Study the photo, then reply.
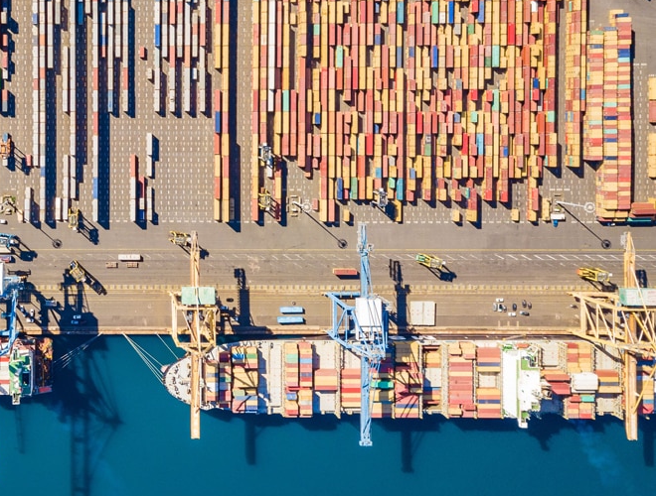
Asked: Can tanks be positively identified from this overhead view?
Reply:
No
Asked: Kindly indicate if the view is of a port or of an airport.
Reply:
port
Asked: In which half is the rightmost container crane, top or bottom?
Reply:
bottom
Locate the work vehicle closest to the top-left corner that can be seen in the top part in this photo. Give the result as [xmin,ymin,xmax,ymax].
[0,135,13,158]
